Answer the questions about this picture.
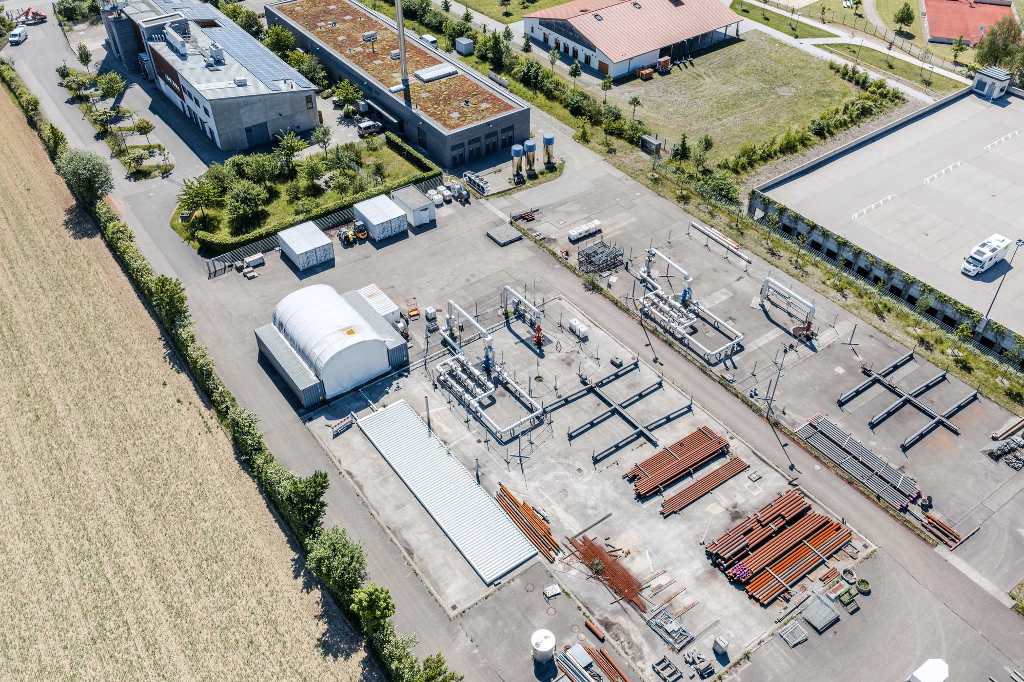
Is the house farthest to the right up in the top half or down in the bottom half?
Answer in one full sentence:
The house farthest to the right sits in the top half of the picture.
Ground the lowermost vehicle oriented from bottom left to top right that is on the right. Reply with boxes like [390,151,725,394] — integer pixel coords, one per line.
[959,233,1014,276]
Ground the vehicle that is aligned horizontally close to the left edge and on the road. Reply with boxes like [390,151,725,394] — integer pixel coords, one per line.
[4,8,47,24]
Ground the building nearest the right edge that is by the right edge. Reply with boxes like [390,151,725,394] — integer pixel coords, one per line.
[973,66,1016,99]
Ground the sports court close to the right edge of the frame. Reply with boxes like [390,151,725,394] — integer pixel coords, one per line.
[927,0,1023,45]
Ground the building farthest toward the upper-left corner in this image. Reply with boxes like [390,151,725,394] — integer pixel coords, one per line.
[84,0,321,151]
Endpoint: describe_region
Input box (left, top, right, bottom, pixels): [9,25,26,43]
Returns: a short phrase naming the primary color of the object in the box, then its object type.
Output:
white vehicle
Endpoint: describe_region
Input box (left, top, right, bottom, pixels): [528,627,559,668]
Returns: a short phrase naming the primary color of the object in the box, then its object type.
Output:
white storage tank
